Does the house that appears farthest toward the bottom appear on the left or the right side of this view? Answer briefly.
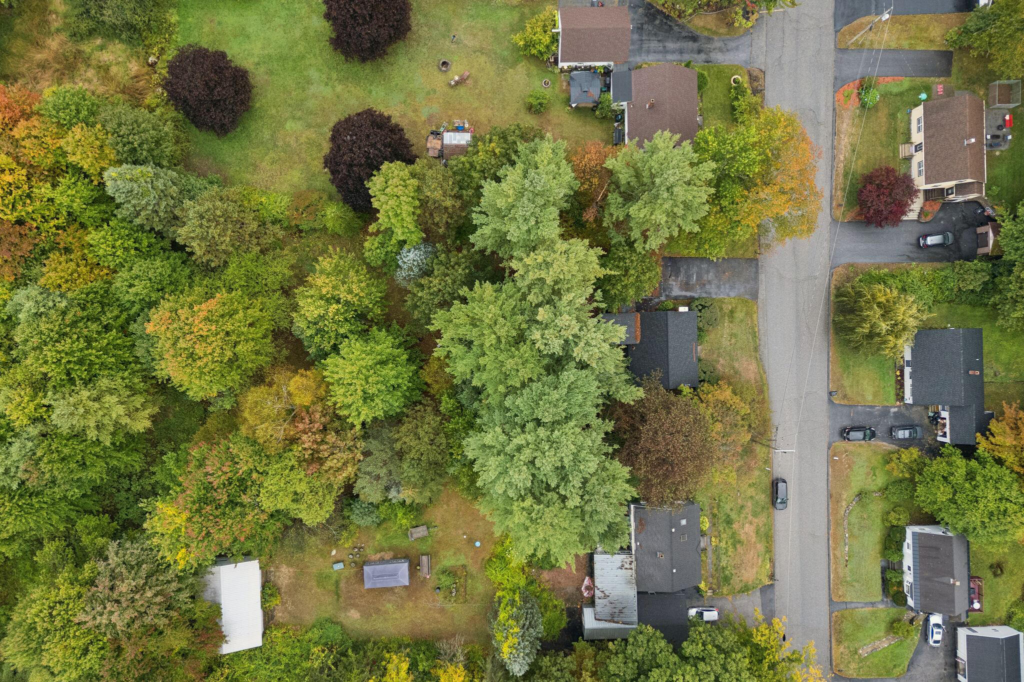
right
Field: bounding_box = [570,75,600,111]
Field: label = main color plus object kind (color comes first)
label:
gray gazebo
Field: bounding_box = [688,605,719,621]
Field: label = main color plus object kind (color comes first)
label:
white car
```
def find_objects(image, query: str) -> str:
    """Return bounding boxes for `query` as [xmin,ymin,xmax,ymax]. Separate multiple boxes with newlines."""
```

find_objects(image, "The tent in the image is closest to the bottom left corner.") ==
[364,558,411,588]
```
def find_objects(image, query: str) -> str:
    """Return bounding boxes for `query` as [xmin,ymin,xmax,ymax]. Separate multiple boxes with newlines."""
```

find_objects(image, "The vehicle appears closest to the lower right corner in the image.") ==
[926,612,943,647]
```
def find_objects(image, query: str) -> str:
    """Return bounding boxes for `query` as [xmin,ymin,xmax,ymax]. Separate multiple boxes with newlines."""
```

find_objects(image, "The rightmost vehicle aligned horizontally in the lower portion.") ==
[888,425,921,440]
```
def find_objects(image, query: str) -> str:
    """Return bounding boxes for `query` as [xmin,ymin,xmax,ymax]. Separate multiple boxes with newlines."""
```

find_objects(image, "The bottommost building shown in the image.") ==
[954,627,1021,682]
